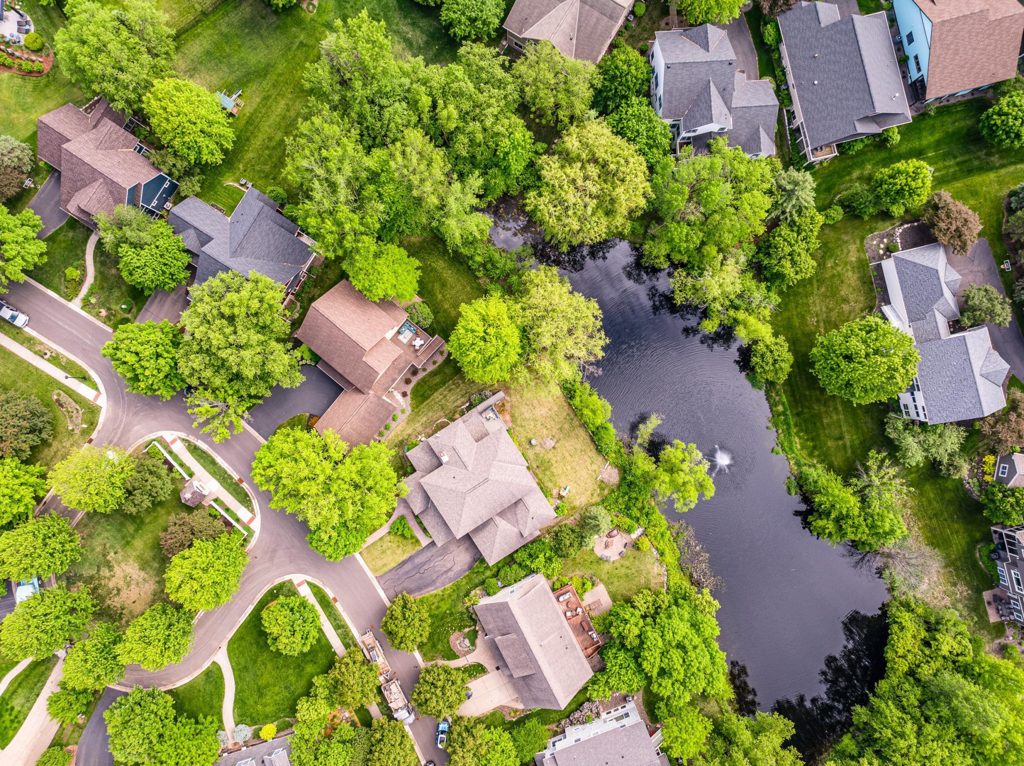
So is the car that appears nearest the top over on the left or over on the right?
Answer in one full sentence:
The car that appears nearest the top appears in the left half of the scene.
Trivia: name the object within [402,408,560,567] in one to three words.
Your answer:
house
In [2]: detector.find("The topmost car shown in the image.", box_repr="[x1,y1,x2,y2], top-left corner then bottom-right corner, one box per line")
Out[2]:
[0,300,26,326]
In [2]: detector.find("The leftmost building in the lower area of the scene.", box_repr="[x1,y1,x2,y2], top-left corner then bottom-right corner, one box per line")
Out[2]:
[181,476,218,508]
